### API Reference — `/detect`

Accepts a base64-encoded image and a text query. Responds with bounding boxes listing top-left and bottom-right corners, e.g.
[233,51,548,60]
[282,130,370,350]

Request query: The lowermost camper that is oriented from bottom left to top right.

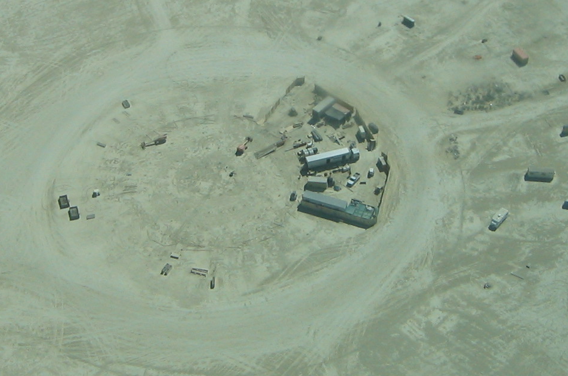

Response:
[488,207,510,232]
